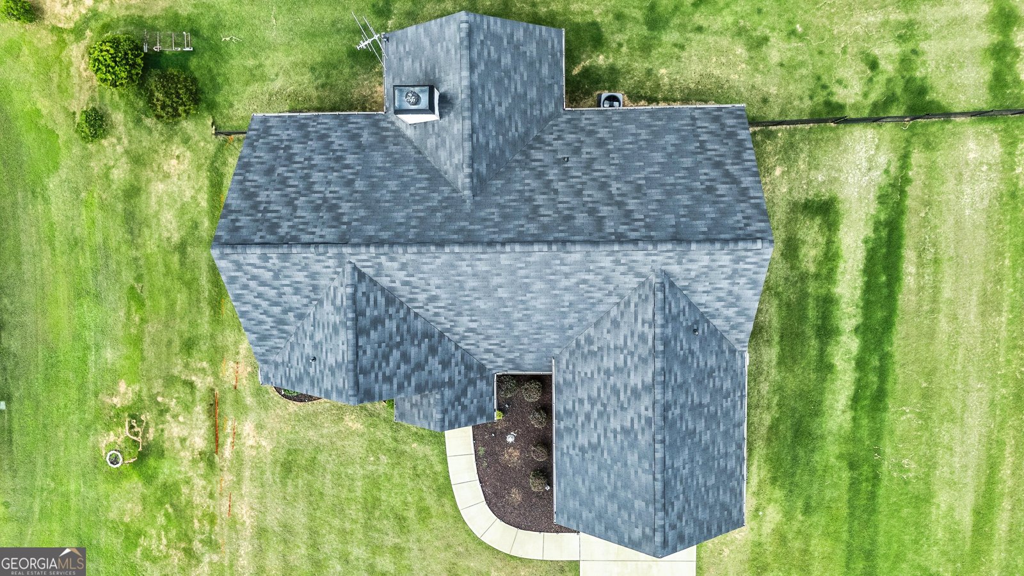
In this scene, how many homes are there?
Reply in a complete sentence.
The picture shows 1 home.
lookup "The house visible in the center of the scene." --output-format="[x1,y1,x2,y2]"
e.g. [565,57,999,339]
[214,11,773,556]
